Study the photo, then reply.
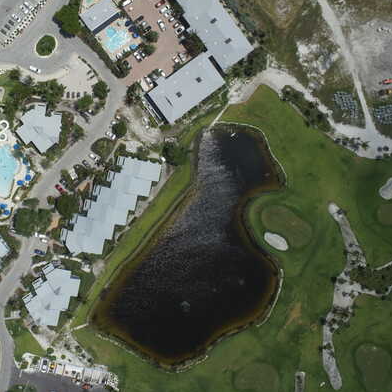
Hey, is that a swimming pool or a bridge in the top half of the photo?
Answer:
swimming pool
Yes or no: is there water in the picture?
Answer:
Yes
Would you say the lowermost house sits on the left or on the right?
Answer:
left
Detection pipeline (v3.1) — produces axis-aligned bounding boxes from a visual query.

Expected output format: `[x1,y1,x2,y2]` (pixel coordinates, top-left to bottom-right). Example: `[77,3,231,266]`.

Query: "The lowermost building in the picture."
[23,262,80,326]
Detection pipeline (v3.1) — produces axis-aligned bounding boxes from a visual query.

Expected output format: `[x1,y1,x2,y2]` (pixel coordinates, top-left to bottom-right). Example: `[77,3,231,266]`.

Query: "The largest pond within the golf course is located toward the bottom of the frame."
[90,125,285,367]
